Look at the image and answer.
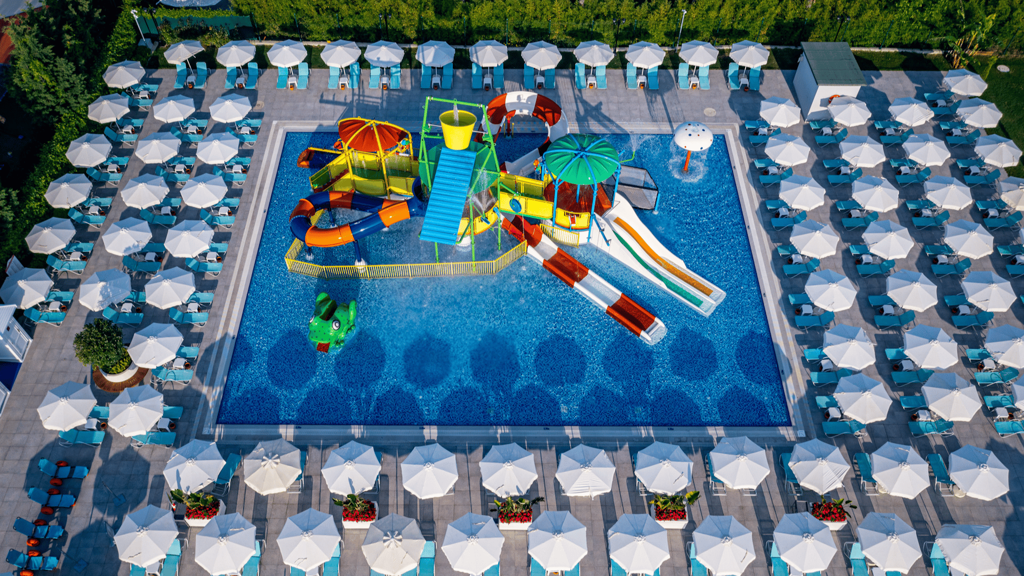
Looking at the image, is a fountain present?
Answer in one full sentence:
Yes, there's a fountain down there.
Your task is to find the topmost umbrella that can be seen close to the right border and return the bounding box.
[943,68,986,107]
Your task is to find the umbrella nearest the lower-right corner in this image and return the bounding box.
[936,515,1004,576]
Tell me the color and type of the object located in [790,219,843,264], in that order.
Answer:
white umbrella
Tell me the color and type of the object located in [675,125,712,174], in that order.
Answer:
white fountain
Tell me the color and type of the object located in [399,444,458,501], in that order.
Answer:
white umbrella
